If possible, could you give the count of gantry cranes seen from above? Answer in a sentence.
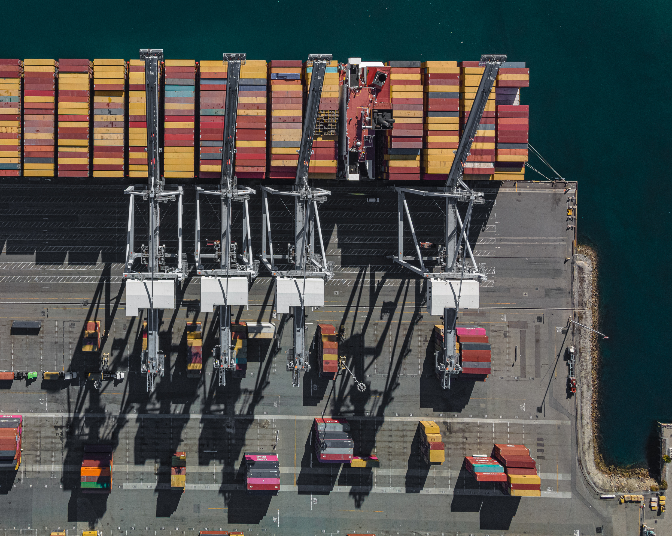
My tally gives 4 gantry cranes in this view.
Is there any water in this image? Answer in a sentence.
Yes, water shows up in the scene.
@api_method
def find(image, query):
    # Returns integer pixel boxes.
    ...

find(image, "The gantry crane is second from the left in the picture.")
[186,51,265,389]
